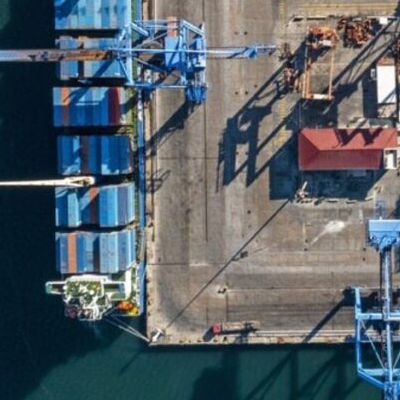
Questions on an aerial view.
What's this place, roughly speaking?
port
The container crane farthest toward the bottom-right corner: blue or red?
blue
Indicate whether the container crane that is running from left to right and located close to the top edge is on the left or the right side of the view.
left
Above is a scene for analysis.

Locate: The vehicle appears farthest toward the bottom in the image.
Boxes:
[212,321,259,334]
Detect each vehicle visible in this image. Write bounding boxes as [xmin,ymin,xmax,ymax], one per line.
[212,321,259,334]
[371,68,376,80]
